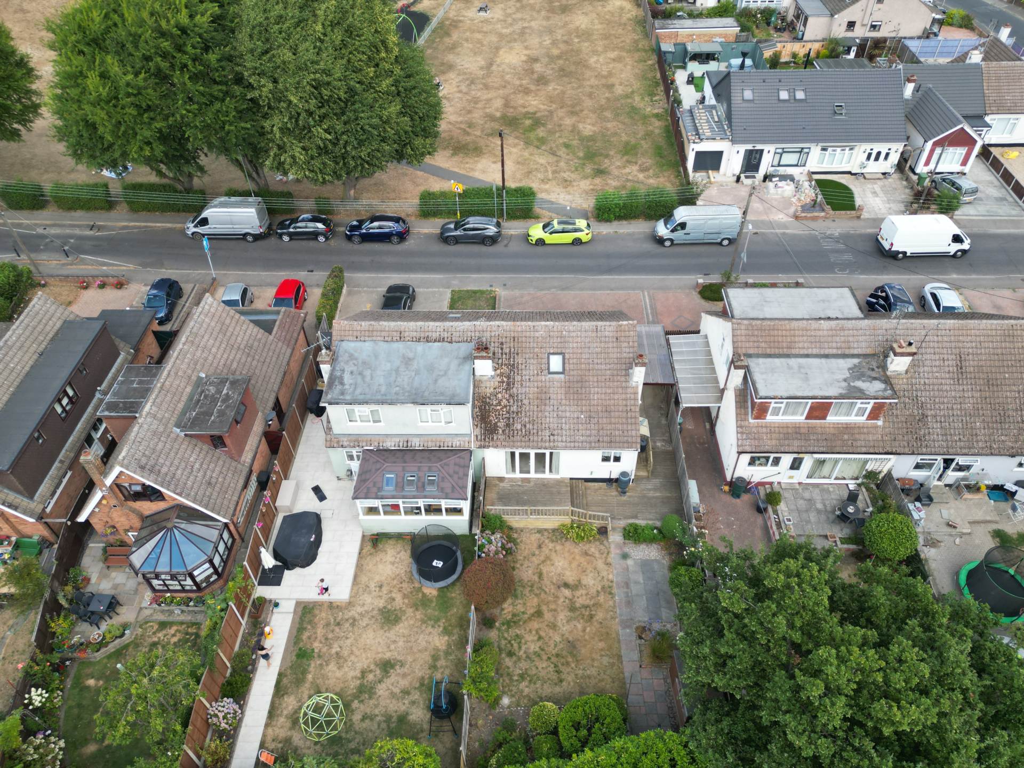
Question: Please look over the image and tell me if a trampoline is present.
Yes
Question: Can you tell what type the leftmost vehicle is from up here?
automobile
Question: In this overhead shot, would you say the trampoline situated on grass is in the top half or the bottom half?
bottom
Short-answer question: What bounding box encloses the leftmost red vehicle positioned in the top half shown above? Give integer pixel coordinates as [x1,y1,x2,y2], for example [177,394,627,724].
[265,281,307,312]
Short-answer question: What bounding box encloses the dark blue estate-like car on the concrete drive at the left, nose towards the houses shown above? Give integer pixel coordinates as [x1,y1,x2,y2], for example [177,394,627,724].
[138,278,191,331]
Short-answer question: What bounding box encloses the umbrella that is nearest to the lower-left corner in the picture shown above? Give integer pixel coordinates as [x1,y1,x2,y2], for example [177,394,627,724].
[256,548,285,587]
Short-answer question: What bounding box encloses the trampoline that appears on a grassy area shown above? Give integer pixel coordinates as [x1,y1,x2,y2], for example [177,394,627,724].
[407,522,463,588]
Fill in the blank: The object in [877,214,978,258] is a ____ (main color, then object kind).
white van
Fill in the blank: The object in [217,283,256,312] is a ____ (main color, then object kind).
gray car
